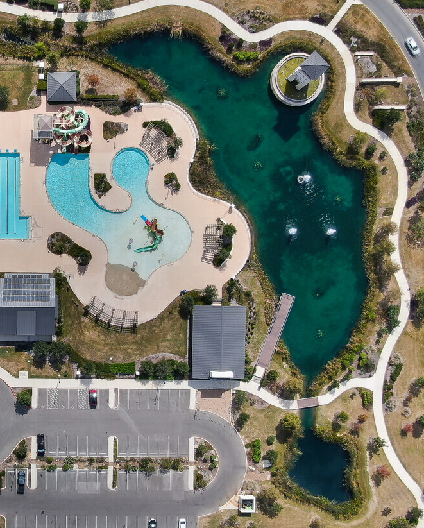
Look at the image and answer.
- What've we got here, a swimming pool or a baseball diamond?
swimming pool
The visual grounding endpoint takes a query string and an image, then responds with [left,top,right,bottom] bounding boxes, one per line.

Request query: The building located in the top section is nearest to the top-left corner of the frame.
[47,72,76,103]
